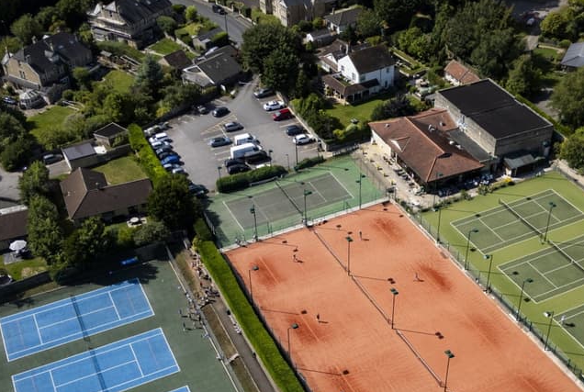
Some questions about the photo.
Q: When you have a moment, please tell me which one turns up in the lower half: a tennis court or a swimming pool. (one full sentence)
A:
Looking in the lower half, you will find a tennis court.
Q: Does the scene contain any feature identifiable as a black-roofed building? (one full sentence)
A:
Yes, the image includes a black-roofed building.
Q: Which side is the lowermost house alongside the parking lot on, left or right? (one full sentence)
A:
It is on the left.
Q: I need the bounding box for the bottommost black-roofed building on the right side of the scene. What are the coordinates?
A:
[438,79,553,179]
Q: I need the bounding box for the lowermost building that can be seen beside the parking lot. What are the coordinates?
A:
[60,166,154,226]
